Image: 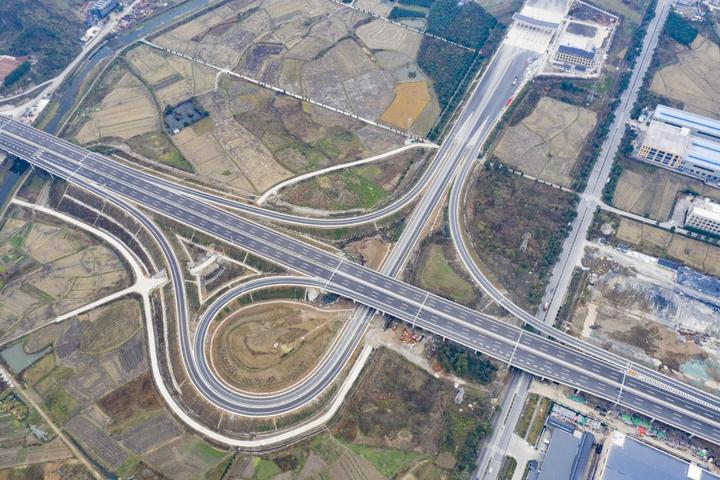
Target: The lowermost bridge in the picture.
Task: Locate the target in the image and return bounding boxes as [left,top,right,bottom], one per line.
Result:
[323,256,720,448]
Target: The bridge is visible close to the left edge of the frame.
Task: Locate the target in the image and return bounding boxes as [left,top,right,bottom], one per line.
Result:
[0,115,98,181]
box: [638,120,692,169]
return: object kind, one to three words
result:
building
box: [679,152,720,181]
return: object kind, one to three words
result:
shed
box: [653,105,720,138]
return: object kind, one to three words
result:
shed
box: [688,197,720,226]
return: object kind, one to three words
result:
building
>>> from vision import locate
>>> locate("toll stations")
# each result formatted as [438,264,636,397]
[513,13,560,36]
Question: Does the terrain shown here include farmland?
Yes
